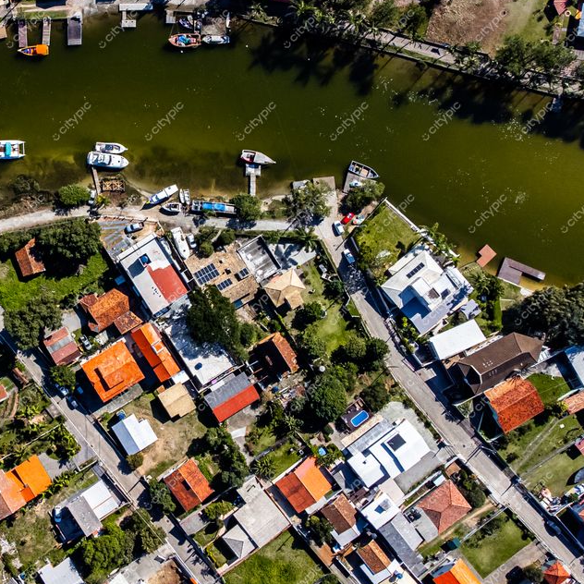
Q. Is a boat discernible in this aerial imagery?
Yes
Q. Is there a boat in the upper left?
Yes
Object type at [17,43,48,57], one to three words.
boat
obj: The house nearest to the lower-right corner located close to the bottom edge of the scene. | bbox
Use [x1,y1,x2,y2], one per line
[541,560,571,584]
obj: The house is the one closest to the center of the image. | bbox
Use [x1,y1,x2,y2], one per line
[264,270,305,308]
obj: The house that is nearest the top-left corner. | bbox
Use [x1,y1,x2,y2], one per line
[15,239,45,276]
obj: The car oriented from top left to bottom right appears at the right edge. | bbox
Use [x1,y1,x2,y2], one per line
[546,521,561,537]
